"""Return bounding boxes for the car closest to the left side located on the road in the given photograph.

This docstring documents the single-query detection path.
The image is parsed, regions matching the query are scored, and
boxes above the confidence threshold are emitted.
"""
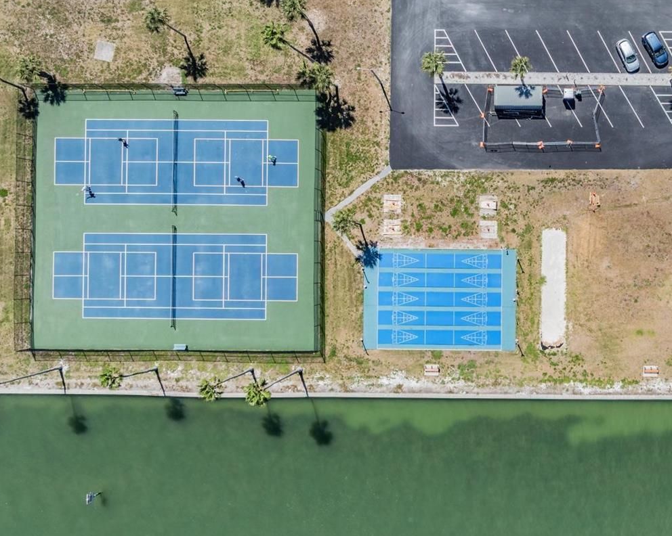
[616,35,640,72]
